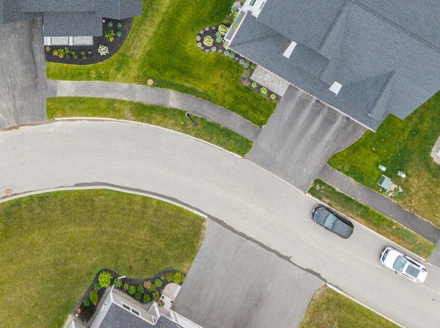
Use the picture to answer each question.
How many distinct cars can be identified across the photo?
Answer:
2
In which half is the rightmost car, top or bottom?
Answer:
bottom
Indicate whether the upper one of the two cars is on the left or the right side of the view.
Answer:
right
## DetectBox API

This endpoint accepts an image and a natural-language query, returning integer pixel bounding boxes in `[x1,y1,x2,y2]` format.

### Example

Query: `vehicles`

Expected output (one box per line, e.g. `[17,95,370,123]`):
[379,248,431,286]
[309,204,357,243]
